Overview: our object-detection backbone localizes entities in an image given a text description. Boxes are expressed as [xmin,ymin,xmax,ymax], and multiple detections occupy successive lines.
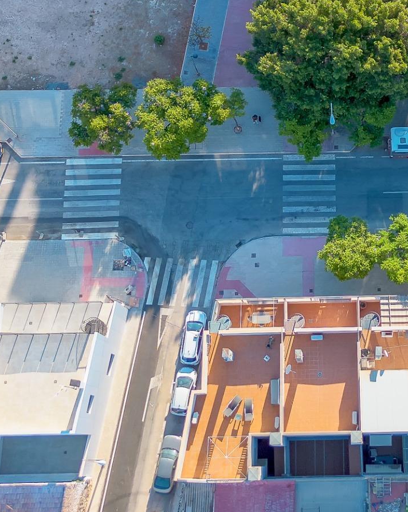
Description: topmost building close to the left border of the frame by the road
[0,301,133,481]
